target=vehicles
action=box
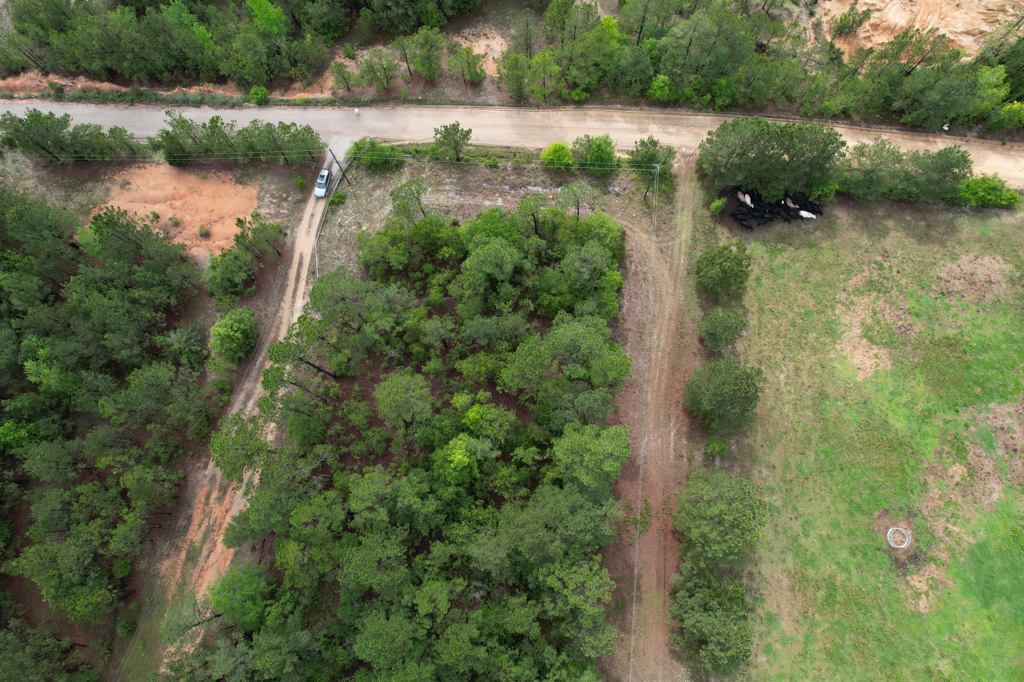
[314,168,332,199]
